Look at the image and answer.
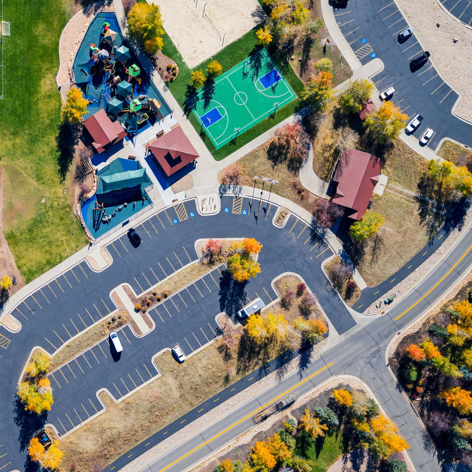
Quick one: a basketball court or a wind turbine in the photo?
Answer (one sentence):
It is a basketball court that can be seen here.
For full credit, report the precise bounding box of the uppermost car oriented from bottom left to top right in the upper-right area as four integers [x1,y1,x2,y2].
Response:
[396,28,414,41]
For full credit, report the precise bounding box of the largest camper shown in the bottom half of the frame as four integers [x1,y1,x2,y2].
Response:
[236,297,267,317]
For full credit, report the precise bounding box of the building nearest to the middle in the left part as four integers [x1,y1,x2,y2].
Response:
[148,127,199,177]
